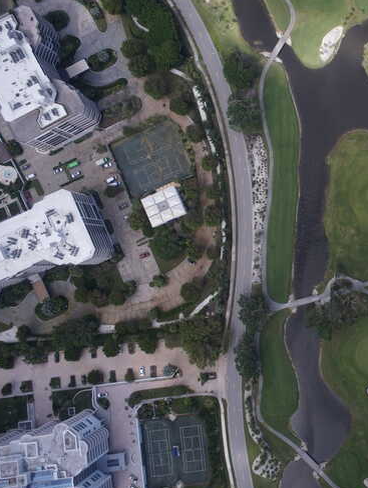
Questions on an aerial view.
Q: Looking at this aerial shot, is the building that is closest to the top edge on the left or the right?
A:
left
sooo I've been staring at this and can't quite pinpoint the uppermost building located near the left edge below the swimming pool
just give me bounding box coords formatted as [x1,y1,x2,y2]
[0,188,112,291]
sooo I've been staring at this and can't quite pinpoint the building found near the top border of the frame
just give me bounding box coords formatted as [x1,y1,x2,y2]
[0,5,102,150]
